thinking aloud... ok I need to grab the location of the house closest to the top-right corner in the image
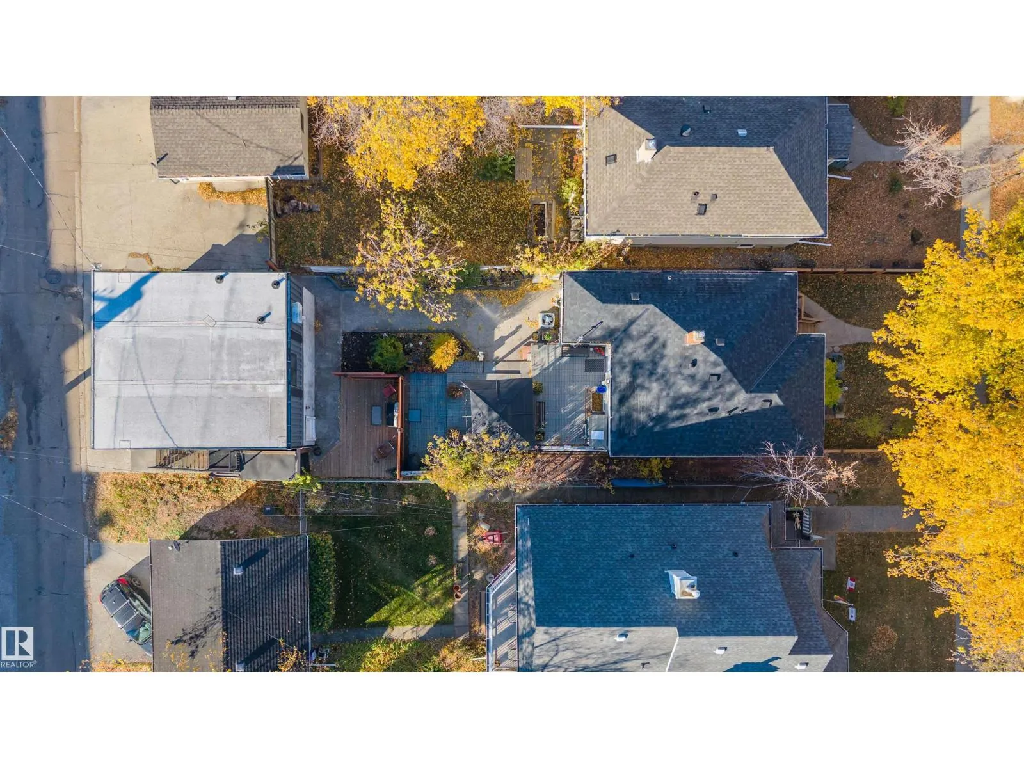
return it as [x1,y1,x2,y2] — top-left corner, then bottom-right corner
[584,92,851,248]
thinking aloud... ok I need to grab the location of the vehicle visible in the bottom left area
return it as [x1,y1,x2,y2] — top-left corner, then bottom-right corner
[98,574,149,654]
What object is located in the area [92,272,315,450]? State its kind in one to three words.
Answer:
building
